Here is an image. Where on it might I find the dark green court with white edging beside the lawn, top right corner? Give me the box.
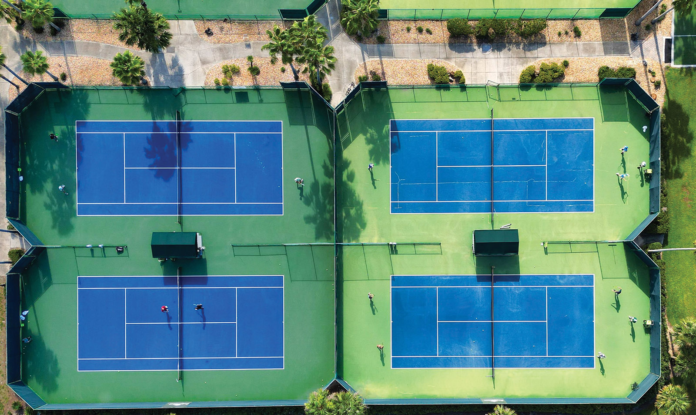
[674,9,696,67]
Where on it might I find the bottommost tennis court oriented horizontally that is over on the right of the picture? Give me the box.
[336,240,650,397]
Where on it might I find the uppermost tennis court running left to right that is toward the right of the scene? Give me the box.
[343,0,640,20]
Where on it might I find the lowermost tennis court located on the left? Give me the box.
[20,245,336,402]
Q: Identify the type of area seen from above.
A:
sports ground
